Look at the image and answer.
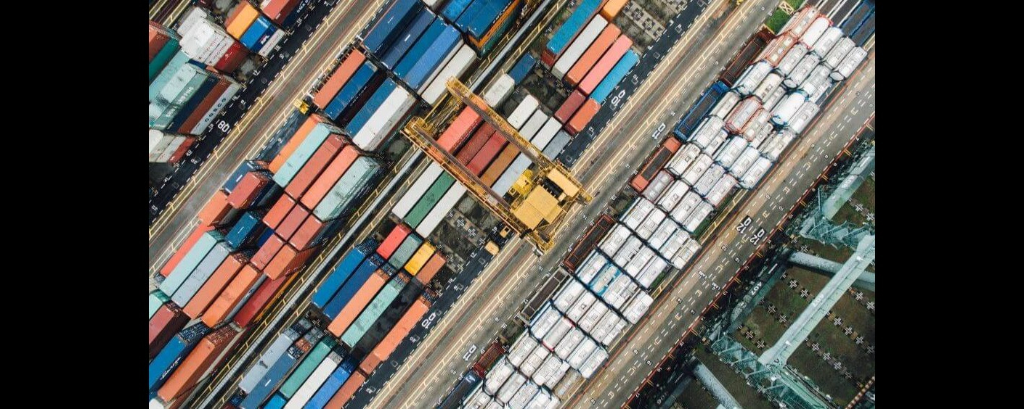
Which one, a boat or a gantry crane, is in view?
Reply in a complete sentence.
I can see a gantry crane in this picture.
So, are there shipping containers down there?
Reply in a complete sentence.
Yes, this view includes a shipping container.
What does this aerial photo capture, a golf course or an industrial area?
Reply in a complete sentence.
It's an industrial area.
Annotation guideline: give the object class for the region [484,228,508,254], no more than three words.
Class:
truck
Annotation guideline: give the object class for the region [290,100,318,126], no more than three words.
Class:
truck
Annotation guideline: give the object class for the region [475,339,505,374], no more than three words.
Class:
shipping container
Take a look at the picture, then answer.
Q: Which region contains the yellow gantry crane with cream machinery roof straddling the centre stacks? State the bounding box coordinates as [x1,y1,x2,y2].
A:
[407,71,597,248]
